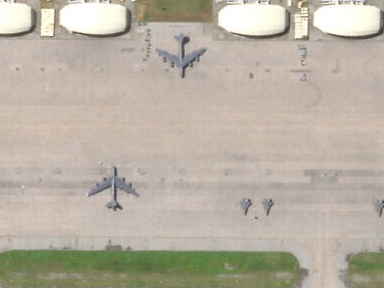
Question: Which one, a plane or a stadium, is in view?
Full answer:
There is a plane in the scene.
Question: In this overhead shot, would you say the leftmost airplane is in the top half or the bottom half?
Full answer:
The leftmost airplane sits in the bottom half of the picture.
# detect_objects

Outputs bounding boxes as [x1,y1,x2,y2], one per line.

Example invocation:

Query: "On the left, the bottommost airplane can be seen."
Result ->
[88,167,139,210]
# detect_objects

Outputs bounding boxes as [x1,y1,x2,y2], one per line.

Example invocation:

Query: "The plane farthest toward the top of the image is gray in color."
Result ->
[156,33,207,78]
